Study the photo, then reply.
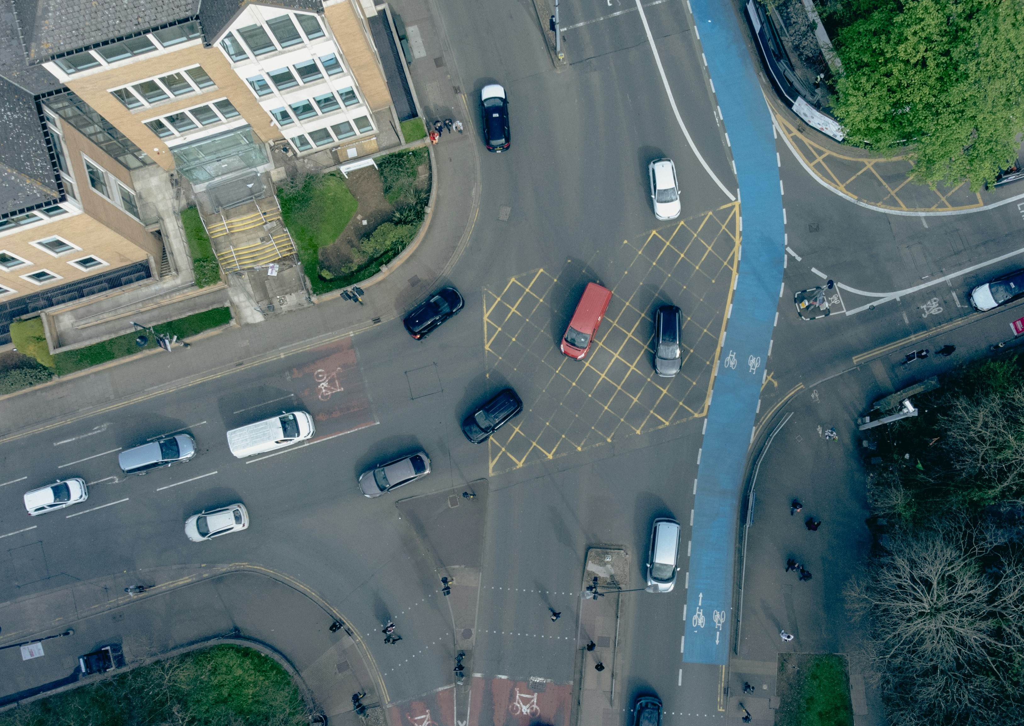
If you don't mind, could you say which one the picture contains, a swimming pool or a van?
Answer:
van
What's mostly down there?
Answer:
paved ground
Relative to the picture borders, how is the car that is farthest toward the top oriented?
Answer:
up and down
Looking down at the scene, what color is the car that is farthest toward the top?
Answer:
black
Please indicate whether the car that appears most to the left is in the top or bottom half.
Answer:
bottom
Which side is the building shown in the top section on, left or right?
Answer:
left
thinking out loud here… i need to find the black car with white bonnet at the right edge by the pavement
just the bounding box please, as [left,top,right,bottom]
[967,266,1024,314]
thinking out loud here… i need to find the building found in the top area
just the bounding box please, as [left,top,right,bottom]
[0,0,396,301]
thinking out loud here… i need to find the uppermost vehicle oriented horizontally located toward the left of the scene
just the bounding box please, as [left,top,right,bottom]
[225,412,313,460]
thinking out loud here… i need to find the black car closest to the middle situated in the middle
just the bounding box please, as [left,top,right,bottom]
[461,386,523,444]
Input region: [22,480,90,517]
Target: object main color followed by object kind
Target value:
white car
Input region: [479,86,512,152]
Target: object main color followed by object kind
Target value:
black car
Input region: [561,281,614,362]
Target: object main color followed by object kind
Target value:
red van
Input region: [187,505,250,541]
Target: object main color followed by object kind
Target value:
white car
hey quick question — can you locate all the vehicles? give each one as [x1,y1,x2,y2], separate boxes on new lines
[225,412,313,460]
[187,505,250,541]
[479,86,512,152]
[967,266,1024,314]
[361,453,433,499]
[461,386,523,444]
[652,306,686,377]
[561,281,614,362]
[406,286,465,338]
[22,480,90,517]
[632,691,663,726]
[648,157,683,223]
[647,518,682,593]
